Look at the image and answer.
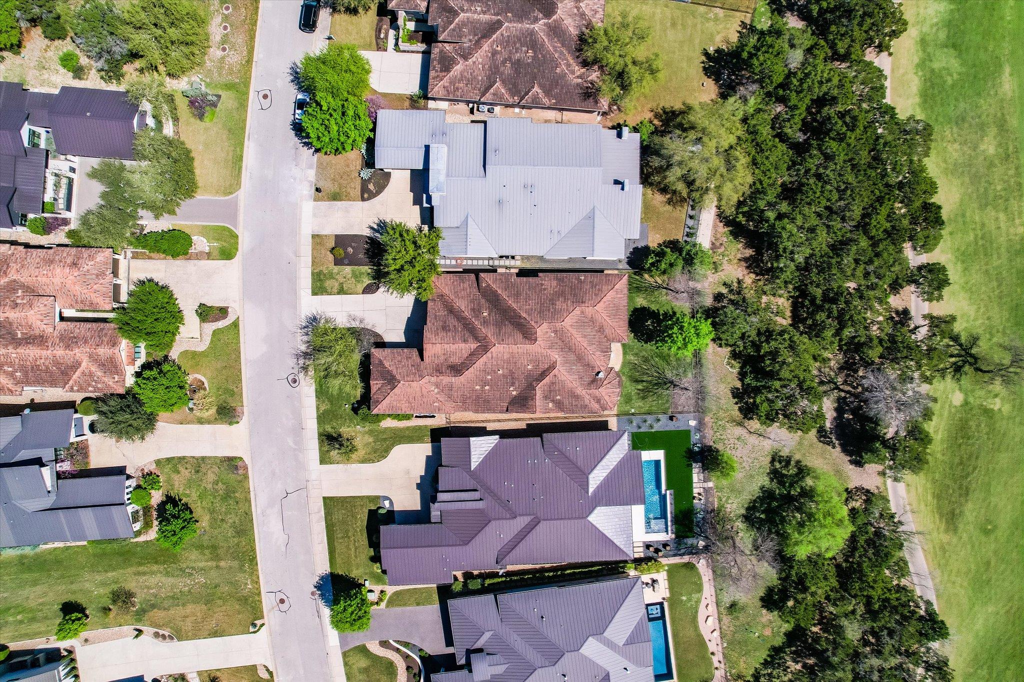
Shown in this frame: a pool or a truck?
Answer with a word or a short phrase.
pool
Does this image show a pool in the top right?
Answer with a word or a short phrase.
No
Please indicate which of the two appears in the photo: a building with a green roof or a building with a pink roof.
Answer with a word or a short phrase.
building with a pink roof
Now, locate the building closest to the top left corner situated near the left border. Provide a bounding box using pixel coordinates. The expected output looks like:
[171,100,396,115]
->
[0,82,152,229]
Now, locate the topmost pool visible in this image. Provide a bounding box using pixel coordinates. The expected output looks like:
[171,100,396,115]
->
[633,451,676,541]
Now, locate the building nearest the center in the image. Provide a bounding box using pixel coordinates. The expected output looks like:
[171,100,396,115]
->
[370,272,628,414]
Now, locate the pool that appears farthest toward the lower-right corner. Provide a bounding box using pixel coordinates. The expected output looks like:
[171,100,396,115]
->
[645,602,677,682]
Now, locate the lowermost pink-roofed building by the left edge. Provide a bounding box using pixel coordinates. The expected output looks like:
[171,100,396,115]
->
[0,243,146,396]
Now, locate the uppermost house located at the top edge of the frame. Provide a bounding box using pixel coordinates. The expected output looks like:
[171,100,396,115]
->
[387,0,608,114]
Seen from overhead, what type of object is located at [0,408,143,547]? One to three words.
house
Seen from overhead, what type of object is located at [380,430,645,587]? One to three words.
house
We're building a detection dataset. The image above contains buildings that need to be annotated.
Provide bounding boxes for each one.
[0,408,143,547]
[370,272,628,414]
[375,109,642,260]
[0,82,152,229]
[387,0,608,114]
[0,243,146,396]
[0,652,80,682]
[380,430,645,587]
[431,573,655,682]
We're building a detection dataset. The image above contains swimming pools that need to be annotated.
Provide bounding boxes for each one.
[633,451,676,541]
[645,602,677,682]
